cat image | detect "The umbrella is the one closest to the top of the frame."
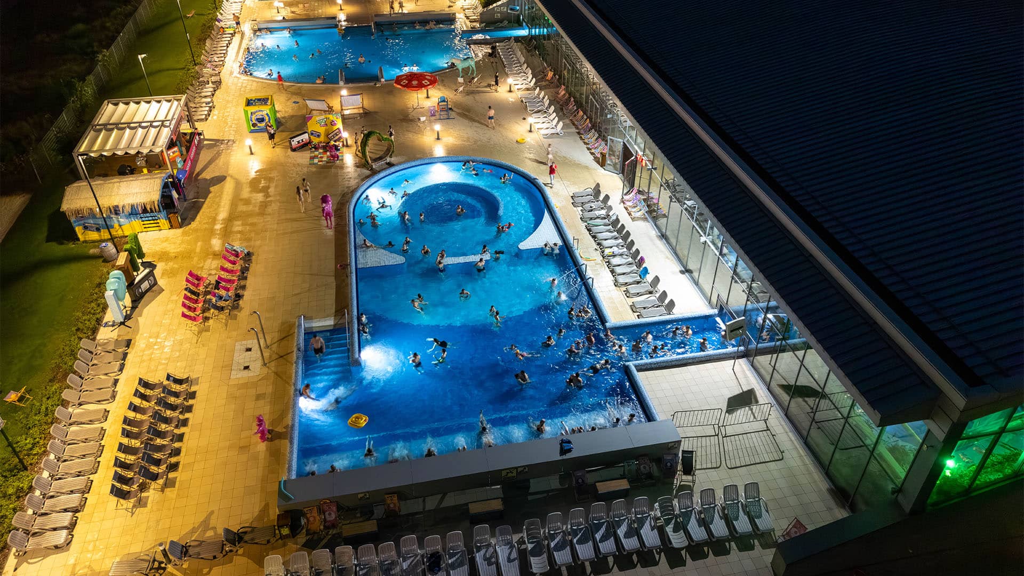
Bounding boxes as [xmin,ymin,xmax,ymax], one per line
[388,70,439,111]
